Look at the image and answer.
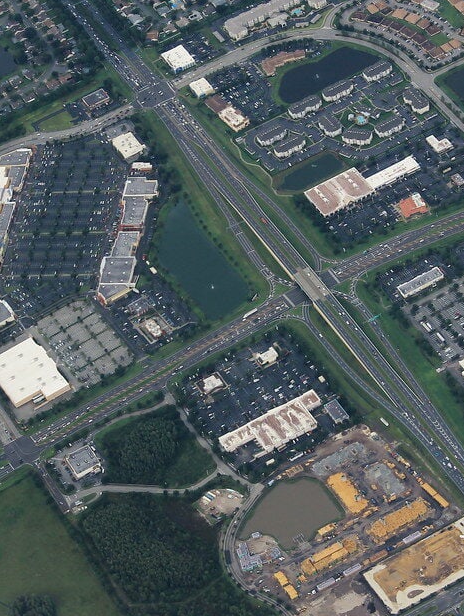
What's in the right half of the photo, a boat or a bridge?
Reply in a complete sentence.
Visible in the right half of the photo is a bridge.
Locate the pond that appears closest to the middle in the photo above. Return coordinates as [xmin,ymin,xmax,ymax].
[156,201,252,318]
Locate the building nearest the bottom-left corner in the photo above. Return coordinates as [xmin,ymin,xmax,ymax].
[67,445,97,477]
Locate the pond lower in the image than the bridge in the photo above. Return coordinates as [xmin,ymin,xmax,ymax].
[238,477,344,550]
